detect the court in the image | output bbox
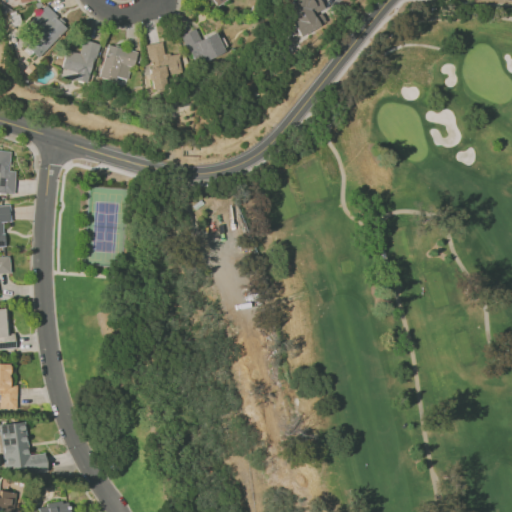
[86,187,126,267]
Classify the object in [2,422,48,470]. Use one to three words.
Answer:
house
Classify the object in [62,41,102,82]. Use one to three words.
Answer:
house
